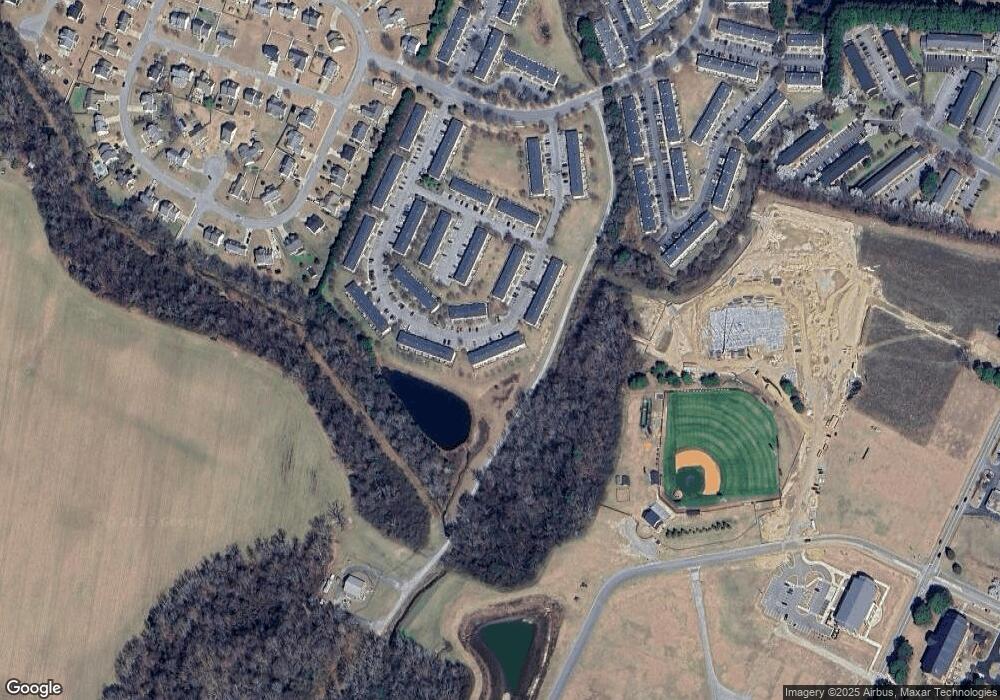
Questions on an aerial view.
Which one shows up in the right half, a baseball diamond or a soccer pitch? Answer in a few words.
baseball diamond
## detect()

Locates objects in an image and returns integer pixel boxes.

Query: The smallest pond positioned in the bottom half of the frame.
[479,618,536,694]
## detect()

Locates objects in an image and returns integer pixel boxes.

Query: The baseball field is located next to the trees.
[660,389,781,513]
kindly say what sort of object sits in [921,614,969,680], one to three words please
building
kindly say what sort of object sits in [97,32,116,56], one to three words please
house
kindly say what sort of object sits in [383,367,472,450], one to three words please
pond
